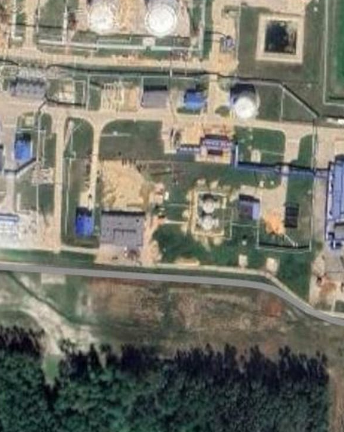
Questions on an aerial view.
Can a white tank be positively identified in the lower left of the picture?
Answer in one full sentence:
No, there is no white tank in the lower left of the picture.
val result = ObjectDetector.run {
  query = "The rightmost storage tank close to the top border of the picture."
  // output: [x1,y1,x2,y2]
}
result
[145,0,180,37]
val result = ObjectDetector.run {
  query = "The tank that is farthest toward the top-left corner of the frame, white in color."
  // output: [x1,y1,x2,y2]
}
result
[85,0,122,32]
